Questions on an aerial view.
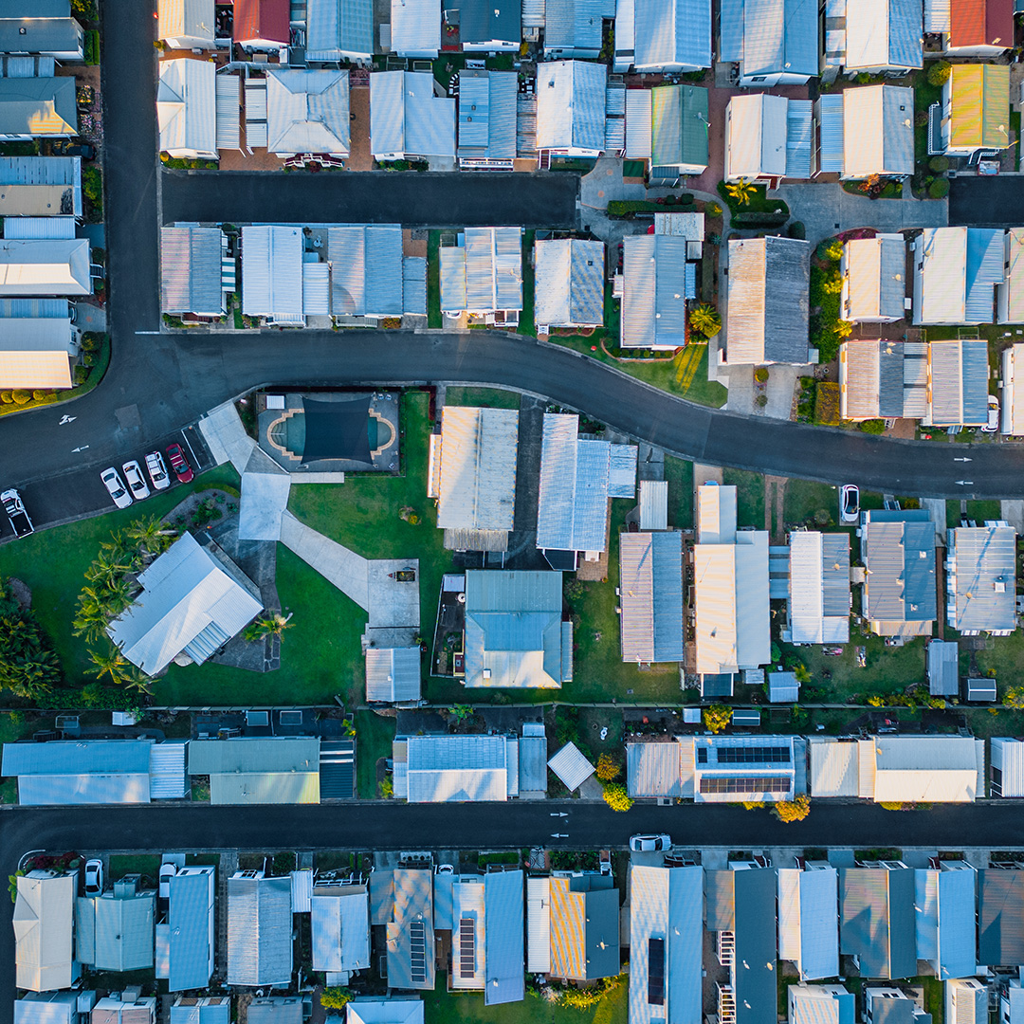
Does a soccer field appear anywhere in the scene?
No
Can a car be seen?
Yes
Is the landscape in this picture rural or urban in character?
urban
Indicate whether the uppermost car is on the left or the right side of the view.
left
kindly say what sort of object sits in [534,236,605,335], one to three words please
house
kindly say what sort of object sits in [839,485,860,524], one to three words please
car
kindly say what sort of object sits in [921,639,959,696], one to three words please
shed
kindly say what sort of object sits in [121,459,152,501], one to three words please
car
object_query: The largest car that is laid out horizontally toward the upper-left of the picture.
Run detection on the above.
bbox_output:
[63,140,105,161]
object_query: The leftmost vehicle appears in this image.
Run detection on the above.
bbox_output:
[2,489,35,538]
